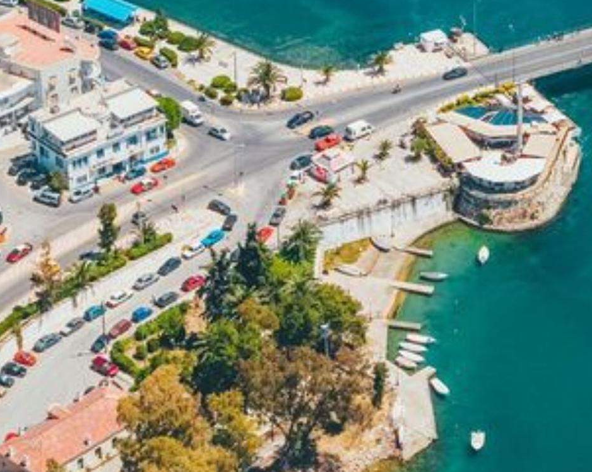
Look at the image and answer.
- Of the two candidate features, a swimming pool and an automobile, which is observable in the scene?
automobile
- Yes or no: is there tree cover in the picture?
Yes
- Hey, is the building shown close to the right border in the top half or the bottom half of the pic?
top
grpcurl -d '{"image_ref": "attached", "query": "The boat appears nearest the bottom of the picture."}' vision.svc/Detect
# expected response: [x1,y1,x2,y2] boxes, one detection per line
[471,430,485,451]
